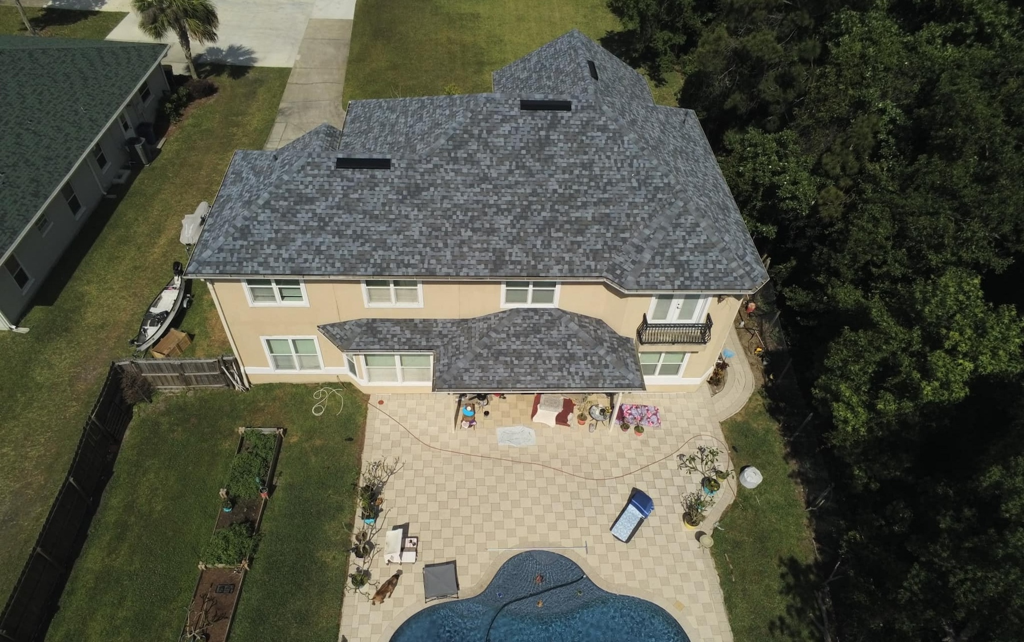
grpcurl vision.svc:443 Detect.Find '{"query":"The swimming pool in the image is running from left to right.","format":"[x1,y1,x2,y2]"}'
[394,551,688,642]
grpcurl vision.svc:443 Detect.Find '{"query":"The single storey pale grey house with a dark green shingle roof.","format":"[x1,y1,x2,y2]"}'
[0,35,174,330]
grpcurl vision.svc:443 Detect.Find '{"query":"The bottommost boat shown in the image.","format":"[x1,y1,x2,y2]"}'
[131,266,189,353]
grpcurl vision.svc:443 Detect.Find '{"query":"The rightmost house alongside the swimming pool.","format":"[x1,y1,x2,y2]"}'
[182,30,771,434]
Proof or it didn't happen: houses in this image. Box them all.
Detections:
[182,30,771,434]
[0,35,174,330]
